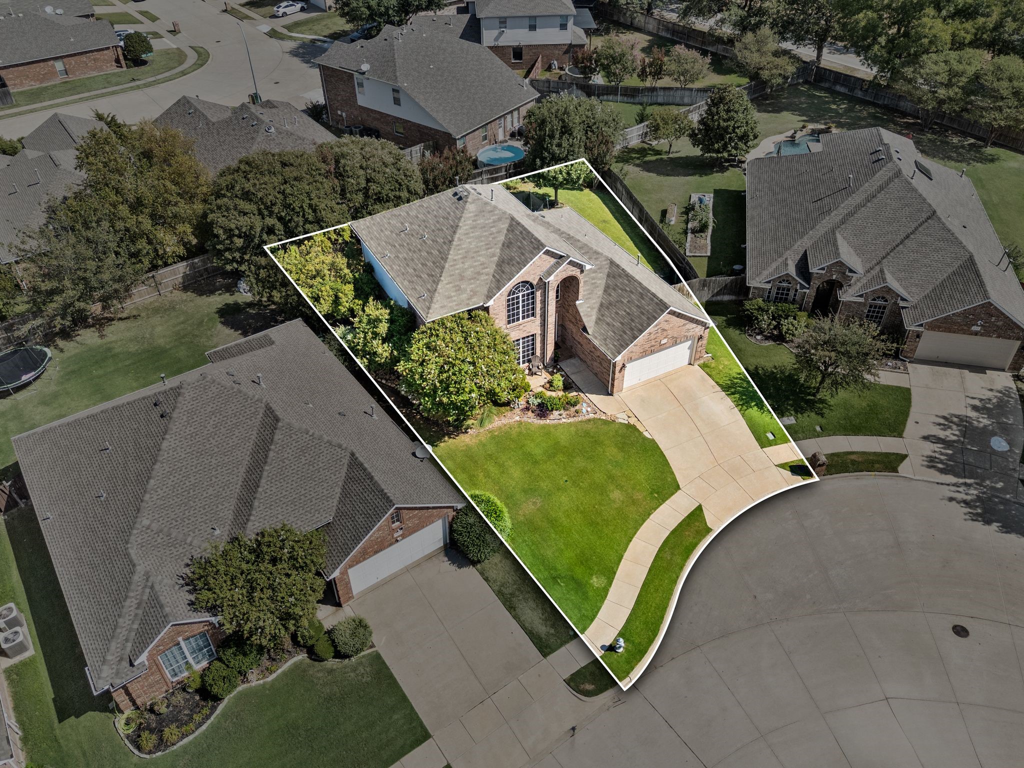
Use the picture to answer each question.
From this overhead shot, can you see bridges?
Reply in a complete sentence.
No, no bridge can be seen from above.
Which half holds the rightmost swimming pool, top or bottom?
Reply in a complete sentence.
It is in the top half that the rightmost swimming pool appears.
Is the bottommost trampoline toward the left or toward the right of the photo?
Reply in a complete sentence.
You can find the bottommost trampoline on the left side of the picture.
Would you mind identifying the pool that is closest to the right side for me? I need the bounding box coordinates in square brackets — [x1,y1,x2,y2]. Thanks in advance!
[759,121,842,158]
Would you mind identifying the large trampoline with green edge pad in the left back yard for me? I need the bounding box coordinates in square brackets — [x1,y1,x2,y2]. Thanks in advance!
[0,313,61,393]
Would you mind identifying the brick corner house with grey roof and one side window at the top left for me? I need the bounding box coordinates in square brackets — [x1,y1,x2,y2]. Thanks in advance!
[0,0,126,91]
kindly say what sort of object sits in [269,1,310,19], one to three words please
car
